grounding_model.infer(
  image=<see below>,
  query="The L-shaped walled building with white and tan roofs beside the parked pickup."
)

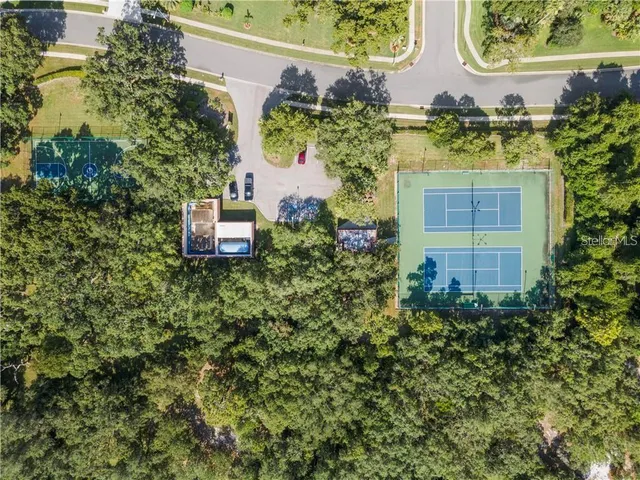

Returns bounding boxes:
[181,201,252,256]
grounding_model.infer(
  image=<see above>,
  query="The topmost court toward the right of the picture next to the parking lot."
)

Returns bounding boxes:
[400,174,549,239]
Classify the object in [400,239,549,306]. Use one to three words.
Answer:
tennis court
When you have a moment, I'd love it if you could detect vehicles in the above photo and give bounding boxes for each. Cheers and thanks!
[244,174,253,199]
[298,148,306,165]
[229,182,238,201]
